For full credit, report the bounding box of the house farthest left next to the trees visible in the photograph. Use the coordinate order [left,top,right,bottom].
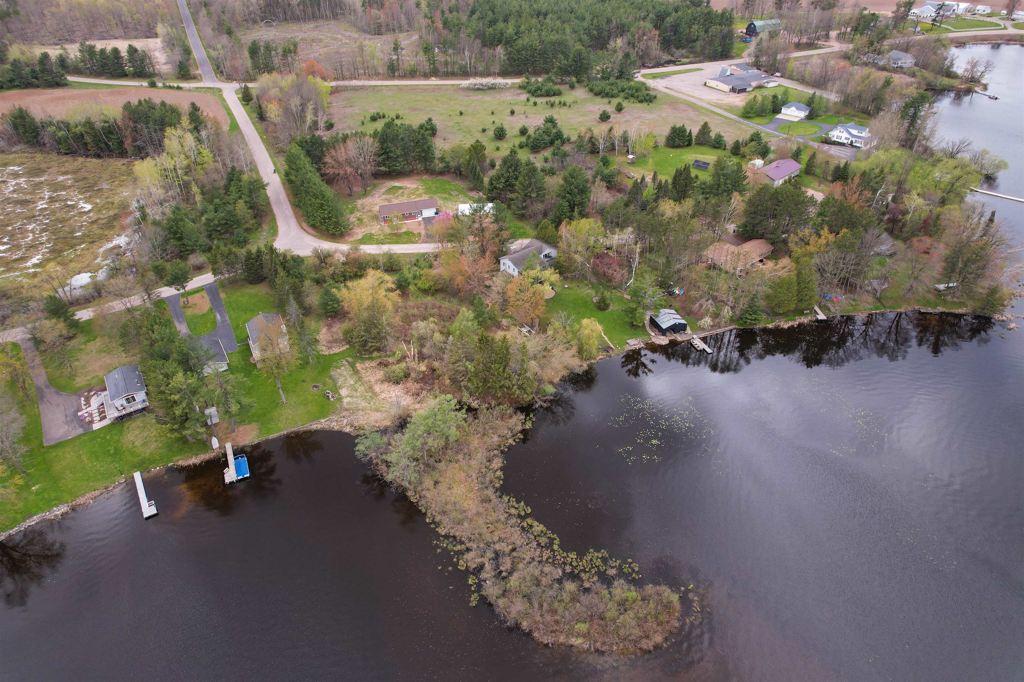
[94,363,153,418]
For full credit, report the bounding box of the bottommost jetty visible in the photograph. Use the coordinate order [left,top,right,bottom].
[134,471,159,522]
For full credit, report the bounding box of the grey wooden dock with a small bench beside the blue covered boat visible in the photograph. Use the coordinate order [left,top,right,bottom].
[219,442,237,488]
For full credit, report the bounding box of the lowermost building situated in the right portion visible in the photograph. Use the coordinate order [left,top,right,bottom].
[647,307,690,336]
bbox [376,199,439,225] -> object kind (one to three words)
house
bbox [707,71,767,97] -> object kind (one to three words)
building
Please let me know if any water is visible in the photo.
Yes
